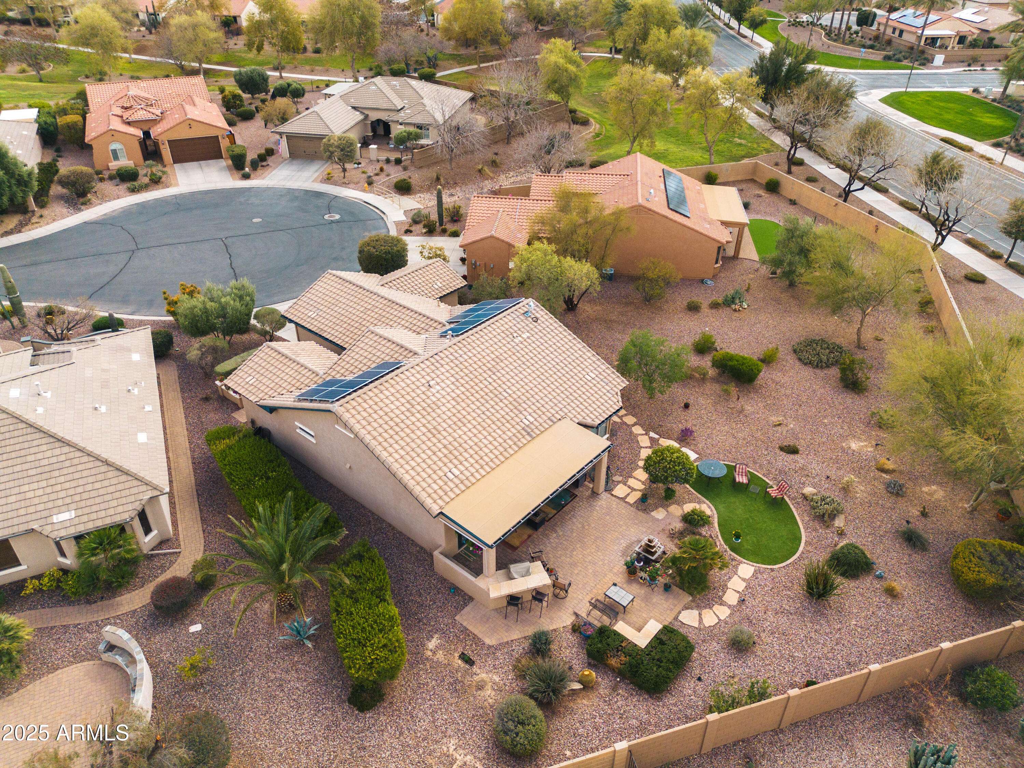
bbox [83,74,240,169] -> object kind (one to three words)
house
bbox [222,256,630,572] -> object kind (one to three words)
house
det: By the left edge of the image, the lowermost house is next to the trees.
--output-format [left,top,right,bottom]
[0,324,181,579]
